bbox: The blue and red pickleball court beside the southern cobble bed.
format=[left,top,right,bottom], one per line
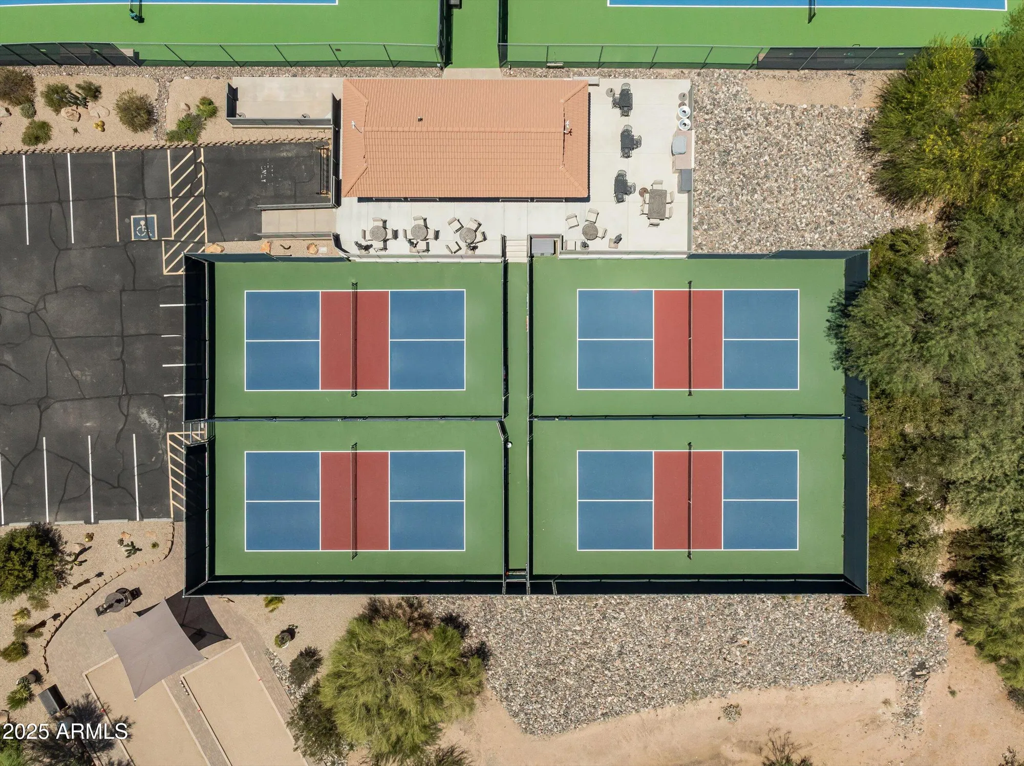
[531,420,844,580]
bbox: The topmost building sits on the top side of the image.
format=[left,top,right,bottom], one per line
[340,76,590,199]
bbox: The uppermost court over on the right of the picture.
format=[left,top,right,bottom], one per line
[500,0,1024,69]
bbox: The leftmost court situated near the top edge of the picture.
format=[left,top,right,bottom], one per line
[0,0,443,67]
